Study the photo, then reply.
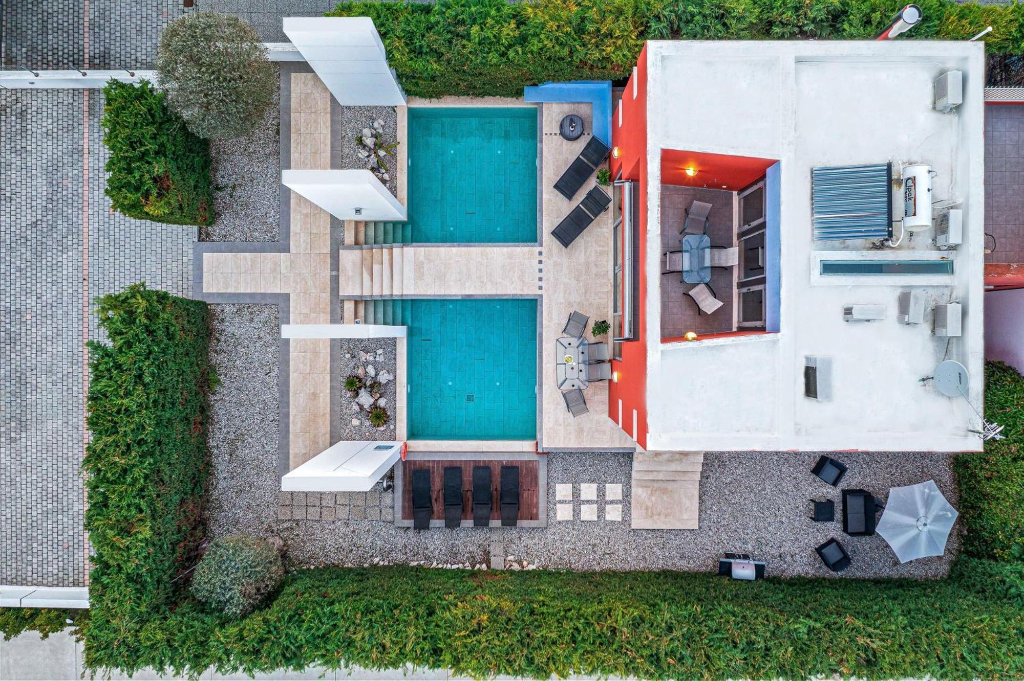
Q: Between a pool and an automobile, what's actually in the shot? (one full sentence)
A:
There is a pool in the scene.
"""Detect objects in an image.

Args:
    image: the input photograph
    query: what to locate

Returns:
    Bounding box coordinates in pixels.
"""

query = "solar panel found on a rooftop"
[809,161,895,241]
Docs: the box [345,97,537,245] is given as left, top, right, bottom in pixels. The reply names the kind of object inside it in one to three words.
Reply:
swimming pool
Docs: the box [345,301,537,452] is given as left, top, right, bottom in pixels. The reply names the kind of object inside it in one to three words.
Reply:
swimming pool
